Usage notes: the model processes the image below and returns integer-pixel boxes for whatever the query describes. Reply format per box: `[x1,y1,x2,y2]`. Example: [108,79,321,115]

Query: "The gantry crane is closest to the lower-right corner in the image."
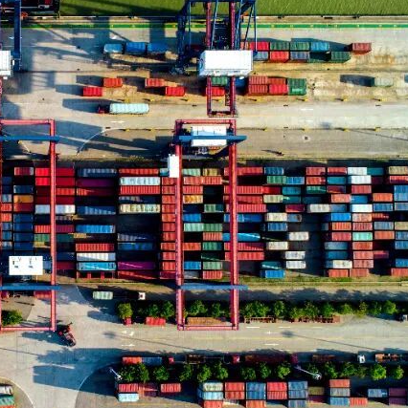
[156,119,252,330]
